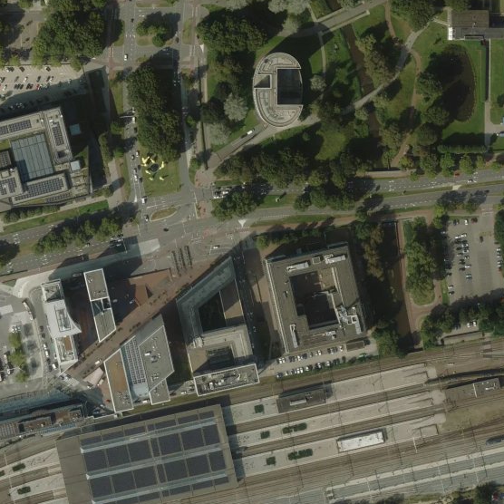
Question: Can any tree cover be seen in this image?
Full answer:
Yes, the picture does contain tree cover.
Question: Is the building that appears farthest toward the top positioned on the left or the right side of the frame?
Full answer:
It is on the right.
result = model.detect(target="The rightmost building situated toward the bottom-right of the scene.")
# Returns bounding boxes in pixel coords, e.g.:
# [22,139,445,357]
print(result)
[472,377,499,398]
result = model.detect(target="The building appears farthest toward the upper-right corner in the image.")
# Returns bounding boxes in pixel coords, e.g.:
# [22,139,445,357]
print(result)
[447,11,504,41]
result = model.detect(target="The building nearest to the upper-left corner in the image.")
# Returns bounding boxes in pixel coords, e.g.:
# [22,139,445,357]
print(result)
[0,108,92,211]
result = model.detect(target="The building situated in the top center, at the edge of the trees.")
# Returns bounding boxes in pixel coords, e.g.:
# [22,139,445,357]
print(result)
[253,53,302,128]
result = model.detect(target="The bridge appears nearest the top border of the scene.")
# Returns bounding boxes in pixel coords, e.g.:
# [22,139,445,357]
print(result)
[318,0,368,29]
